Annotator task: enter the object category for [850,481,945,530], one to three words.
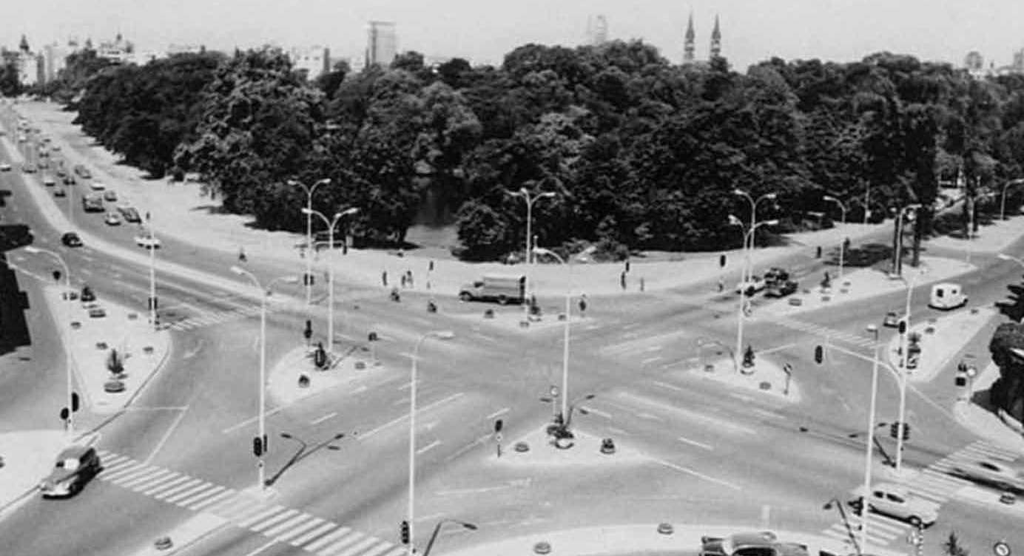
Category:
car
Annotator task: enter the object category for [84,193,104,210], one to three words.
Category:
vehicle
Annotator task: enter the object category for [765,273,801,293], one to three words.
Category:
car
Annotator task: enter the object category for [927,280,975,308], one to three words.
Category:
van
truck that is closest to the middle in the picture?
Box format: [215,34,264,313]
[456,274,532,305]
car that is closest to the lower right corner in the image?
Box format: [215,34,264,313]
[949,454,1024,491]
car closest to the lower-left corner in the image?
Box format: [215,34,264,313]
[39,441,106,487]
